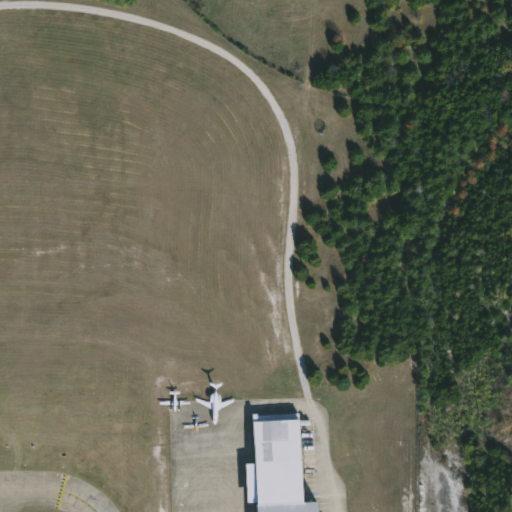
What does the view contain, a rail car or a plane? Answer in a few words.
plane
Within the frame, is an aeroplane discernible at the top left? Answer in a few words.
No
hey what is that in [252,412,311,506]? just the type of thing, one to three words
hangar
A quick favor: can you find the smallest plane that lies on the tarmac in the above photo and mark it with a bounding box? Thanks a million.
[184,416,208,432]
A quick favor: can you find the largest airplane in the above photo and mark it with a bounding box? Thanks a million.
[196,384,236,425]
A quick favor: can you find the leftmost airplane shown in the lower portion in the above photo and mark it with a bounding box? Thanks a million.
[160,392,190,412]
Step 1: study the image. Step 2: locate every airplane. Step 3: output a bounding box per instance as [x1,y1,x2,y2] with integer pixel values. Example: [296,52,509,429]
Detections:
[160,392,190,412]
[196,384,236,425]
[184,416,208,432]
